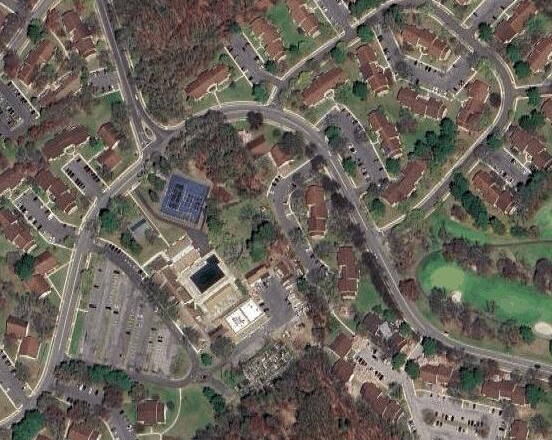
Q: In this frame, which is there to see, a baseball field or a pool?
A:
pool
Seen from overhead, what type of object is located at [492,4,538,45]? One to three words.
building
